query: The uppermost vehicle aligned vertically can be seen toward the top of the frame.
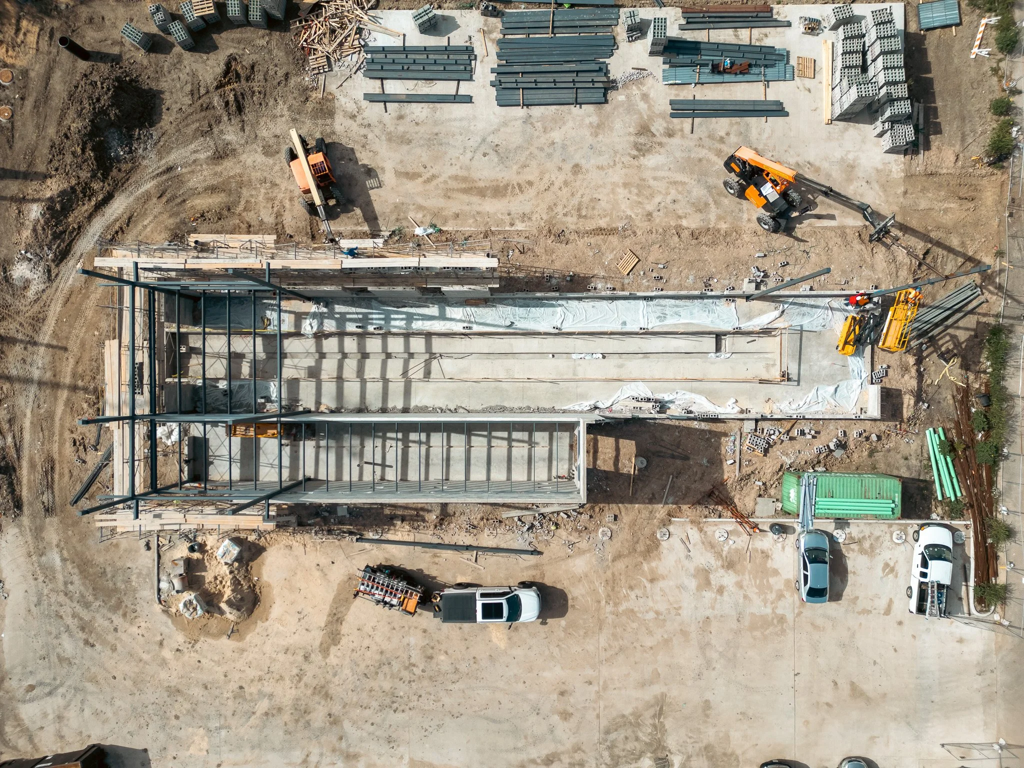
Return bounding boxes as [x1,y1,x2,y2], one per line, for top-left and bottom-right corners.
[280,120,347,275]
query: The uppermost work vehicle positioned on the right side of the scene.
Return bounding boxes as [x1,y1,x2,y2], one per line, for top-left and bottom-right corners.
[722,147,912,293]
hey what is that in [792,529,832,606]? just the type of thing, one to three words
car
